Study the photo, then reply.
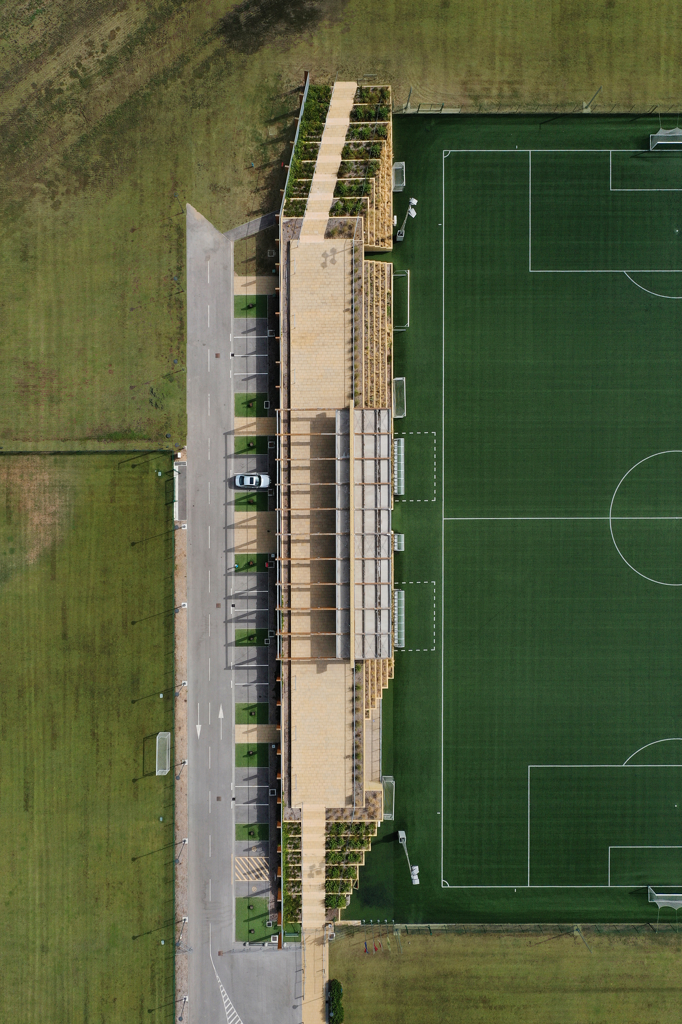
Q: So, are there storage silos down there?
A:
No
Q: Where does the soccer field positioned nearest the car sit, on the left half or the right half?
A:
right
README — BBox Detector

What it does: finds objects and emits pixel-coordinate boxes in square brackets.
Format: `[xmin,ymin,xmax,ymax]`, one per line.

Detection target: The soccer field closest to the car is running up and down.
[340,113,682,923]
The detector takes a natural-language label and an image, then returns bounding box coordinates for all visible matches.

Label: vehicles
[235,473,271,489]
